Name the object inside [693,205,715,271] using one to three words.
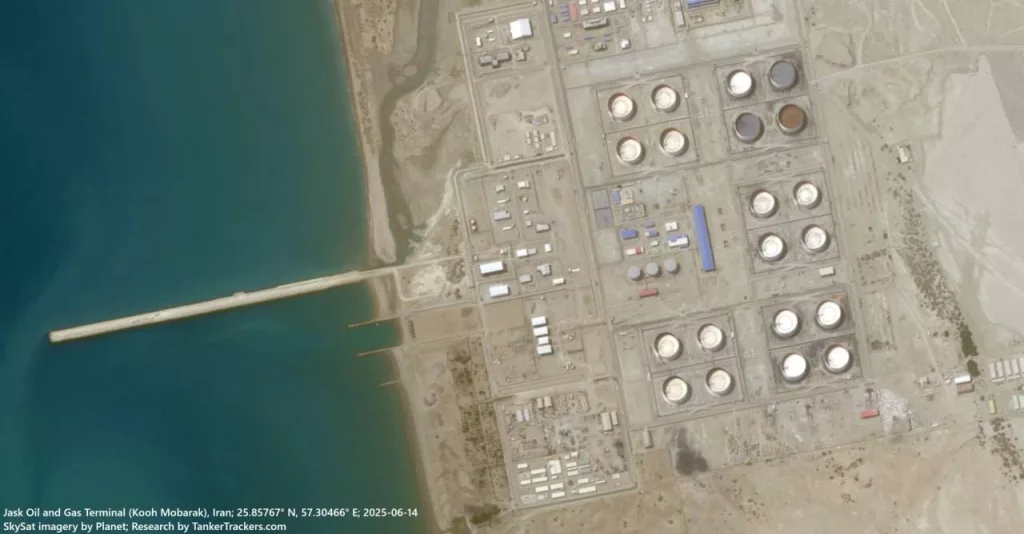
building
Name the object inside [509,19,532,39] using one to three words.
building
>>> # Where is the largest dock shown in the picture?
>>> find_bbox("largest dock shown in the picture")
[48,265,401,342]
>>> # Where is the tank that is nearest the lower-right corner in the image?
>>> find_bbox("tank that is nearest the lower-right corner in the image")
[823,343,851,372]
